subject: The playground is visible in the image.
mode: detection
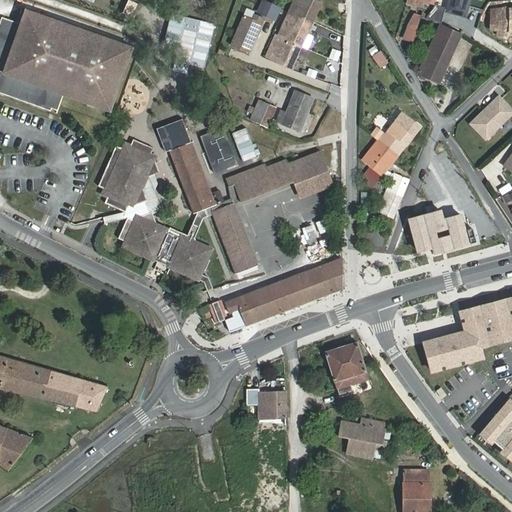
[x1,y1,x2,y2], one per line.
[122,79,149,115]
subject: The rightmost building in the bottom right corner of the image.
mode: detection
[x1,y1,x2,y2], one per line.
[480,398,512,462]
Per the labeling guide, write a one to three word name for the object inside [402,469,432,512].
house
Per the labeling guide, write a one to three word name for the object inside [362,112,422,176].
house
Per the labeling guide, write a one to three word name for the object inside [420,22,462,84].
barn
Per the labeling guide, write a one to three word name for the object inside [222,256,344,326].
building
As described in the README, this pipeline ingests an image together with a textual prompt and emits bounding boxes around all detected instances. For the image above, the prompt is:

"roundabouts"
[154,346,228,419]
